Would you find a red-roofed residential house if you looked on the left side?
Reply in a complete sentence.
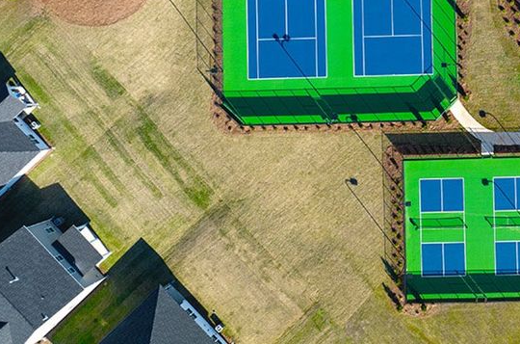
No, the scene shows no red-roofed residential house on the left side.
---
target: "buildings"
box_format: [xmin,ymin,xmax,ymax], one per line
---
[0,218,116,344]
[0,74,50,199]
[100,281,233,344]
